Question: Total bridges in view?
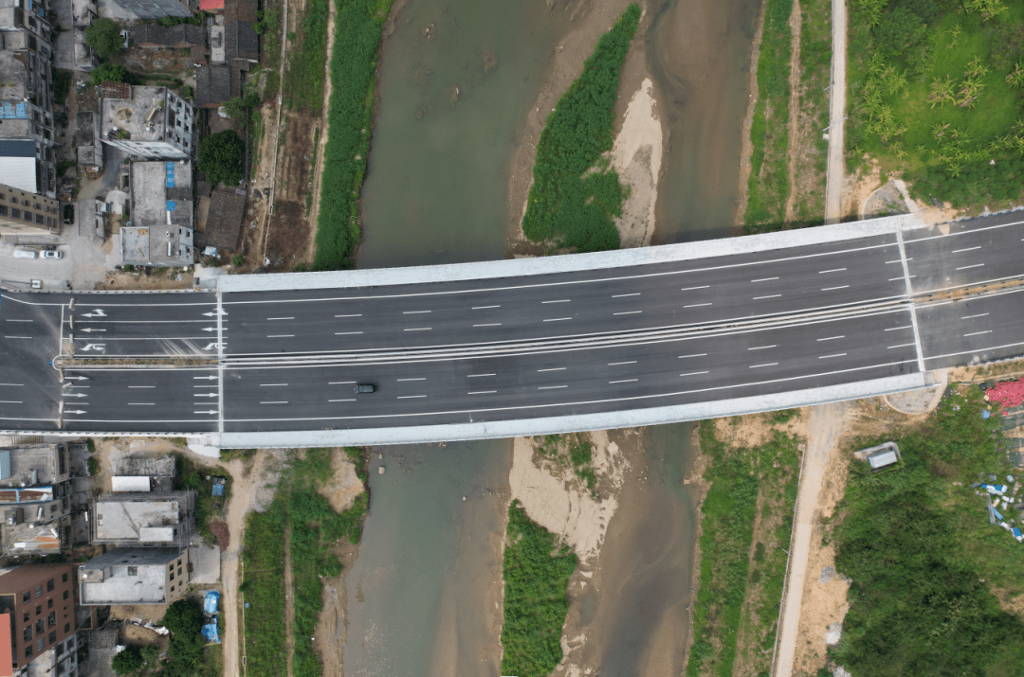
1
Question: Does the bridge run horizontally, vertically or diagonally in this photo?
horizontally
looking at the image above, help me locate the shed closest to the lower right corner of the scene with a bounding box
[861,448,898,470]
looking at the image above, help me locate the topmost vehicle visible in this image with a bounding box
[60,203,73,225]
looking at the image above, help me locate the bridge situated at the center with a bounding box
[217,214,926,451]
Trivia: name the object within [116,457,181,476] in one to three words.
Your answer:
shed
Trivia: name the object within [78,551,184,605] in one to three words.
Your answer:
house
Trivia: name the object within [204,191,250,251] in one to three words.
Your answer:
house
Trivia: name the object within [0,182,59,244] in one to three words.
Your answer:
building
